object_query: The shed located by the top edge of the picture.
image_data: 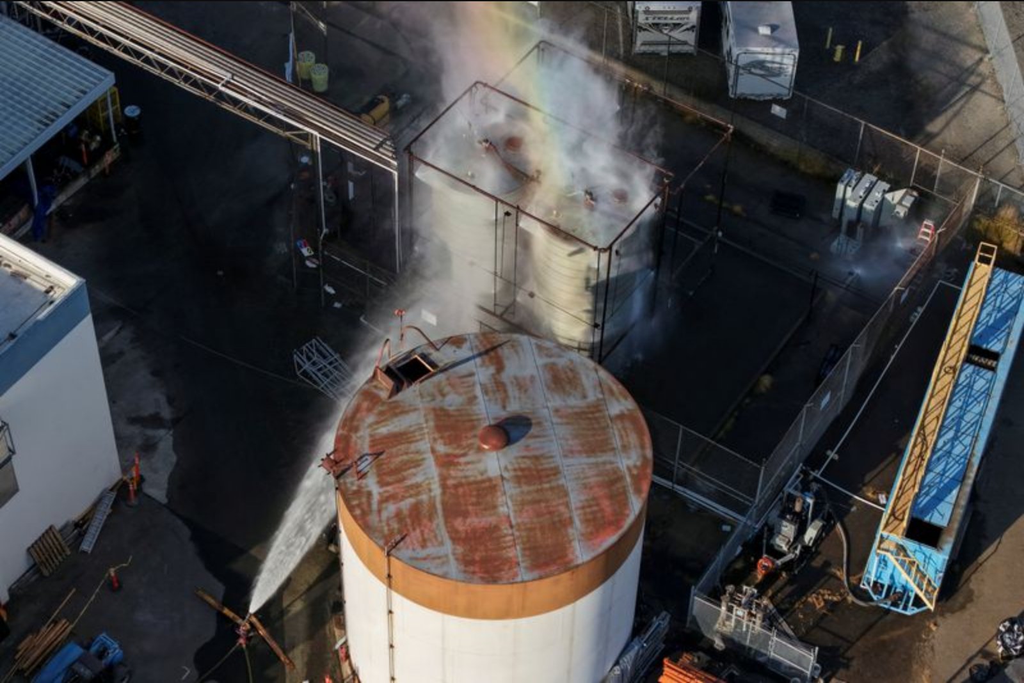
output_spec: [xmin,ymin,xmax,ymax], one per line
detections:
[0,9,128,216]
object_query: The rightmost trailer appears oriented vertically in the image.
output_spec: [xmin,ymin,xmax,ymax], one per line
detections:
[859,225,1024,633]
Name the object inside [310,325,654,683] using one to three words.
storage tank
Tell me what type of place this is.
industrial area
